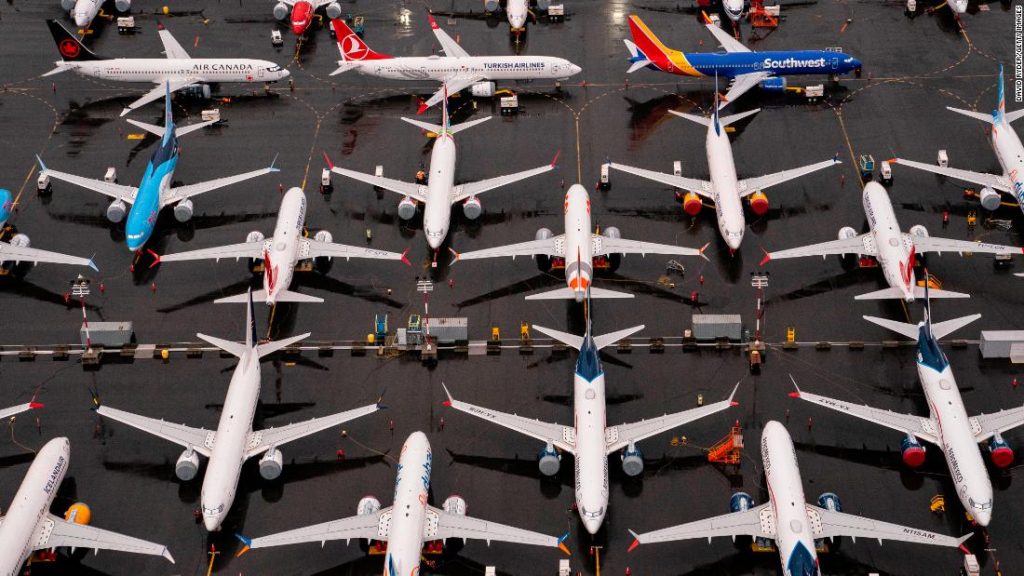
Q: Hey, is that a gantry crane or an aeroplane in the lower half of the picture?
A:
aeroplane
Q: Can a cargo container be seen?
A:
Yes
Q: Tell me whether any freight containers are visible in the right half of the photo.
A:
Yes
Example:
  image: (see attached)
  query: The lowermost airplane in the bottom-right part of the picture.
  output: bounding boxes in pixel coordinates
[632,424,969,576]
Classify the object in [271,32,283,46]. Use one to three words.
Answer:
vehicle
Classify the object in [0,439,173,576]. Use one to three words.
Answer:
airplane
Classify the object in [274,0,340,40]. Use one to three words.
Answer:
airplane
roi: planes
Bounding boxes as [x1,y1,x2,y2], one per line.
[793,274,1024,524]
[602,71,841,249]
[91,285,387,535]
[0,385,46,421]
[235,431,569,576]
[765,180,1024,303]
[632,424,969,576]
[42,18,289,116]
[944,0,966,19]
[442,285,740,534]
[149,185,410,308]
[890,68,1024,222]
[40,78,278,255]
[624,11,863,110]
[274,0,340,40]
[0,191,99,276]
[0,439,173,576]
[334,15,580,113]
[447,182,710,304]
[324,77,561,253]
